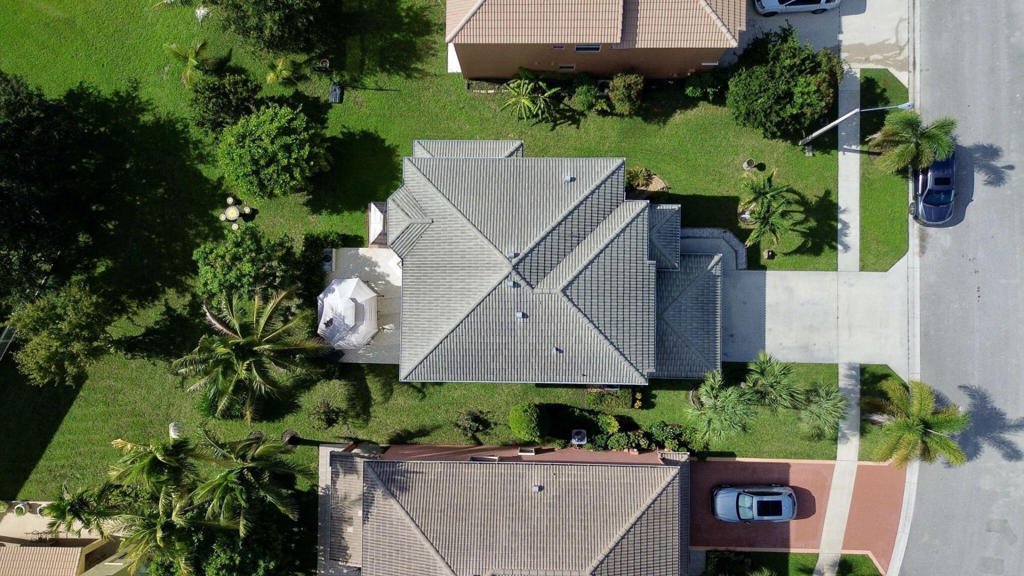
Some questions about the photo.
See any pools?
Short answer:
No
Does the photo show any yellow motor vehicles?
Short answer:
No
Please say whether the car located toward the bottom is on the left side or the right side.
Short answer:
right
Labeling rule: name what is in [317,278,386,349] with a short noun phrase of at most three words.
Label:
gazebo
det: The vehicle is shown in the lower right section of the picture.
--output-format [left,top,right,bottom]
[708,483,798,526]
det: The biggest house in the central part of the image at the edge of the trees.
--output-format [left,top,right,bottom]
[385,138,724,384]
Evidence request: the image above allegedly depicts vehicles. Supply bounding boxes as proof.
[911,144,962,227]
[750,0,839,15]
[708,483,798,526]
